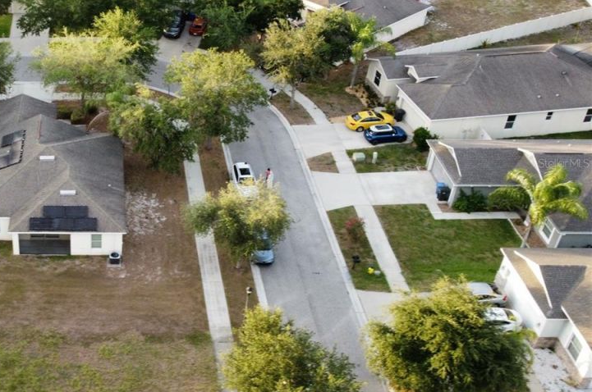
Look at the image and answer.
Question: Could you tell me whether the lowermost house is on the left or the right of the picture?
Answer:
right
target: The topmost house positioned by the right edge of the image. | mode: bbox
[363,45,592,140]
